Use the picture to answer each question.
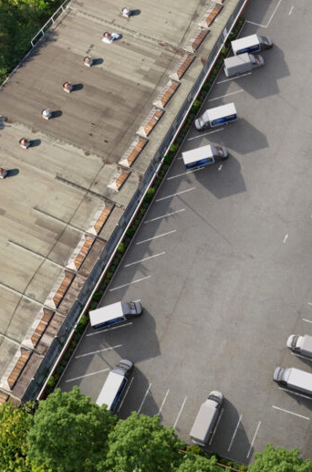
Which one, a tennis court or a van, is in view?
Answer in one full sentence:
The one in the frame is a van.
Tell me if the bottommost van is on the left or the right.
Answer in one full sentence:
The bottommost van is on the right side of the image.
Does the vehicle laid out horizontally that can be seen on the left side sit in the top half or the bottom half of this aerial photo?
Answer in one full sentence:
Seen from above, the vehicle laid out horizontally that can be seen on the left side lies in the bottom half of the view.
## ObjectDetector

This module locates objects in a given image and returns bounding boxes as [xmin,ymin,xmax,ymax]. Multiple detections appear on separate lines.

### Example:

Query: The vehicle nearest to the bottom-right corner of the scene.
[275,370,312,396]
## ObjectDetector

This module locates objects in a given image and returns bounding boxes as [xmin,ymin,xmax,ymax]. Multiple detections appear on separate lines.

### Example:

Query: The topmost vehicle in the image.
[233,36,272,57]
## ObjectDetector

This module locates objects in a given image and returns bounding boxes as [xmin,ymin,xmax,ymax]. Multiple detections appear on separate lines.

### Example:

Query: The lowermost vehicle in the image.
[190,395,223,445]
